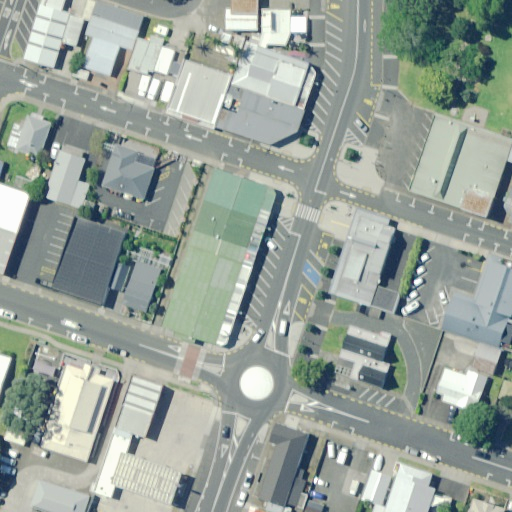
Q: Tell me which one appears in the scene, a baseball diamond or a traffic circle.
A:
traffic circle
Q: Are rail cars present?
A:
No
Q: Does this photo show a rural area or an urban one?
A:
urban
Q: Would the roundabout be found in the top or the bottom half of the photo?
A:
bottom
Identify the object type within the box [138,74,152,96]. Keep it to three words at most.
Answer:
vehicle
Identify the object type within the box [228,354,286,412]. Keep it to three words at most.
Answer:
roundabout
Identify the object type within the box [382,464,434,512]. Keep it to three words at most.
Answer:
house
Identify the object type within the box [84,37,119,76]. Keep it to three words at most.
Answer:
building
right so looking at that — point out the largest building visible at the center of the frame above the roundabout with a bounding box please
[162,168,276,347]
